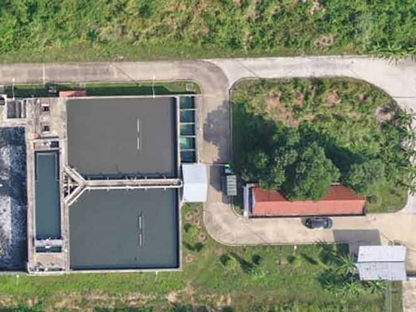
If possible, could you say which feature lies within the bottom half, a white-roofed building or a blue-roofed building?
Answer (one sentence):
What appears within the bottom half is a white-roofed building.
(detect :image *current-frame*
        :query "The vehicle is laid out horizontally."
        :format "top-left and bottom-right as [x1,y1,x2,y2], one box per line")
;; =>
[304,217,332,230]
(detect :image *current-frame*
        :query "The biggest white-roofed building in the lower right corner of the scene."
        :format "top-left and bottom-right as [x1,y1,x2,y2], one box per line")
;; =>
[352,245,407,280]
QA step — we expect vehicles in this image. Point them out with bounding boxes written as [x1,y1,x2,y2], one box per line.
[304,217,332,230]
[218,164,237,200]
